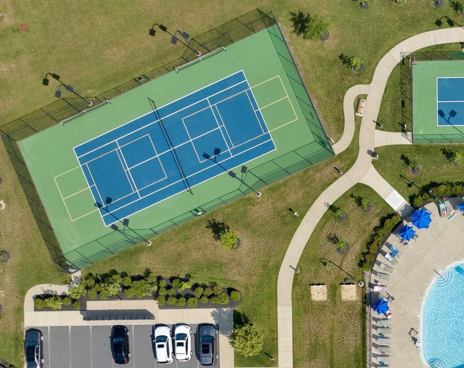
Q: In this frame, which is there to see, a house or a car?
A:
car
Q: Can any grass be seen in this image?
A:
Yes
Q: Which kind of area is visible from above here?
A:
sports ground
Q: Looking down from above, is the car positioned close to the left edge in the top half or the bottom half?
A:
bottom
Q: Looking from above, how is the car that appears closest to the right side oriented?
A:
from top to bottom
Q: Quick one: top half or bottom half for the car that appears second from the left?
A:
bottom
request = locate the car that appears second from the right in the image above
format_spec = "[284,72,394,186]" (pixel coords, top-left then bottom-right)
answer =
[172,326,191,361]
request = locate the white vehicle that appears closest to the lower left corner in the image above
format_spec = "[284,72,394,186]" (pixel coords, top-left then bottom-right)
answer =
[152,326,173,363]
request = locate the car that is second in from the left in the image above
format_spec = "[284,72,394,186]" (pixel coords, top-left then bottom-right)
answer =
[109,326,129,363]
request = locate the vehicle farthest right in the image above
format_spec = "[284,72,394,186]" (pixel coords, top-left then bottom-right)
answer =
[196,325,216,364]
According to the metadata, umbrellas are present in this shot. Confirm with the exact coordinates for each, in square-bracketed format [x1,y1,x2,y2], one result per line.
[372,297,390,315]
[454,200,464,215]
[398,222,417,242]
[411,208,433,230]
